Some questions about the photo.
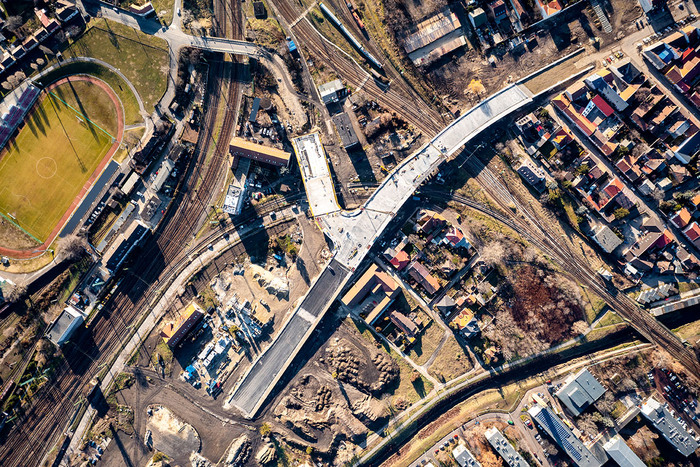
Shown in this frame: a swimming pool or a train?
train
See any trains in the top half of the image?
Yes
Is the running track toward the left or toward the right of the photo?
left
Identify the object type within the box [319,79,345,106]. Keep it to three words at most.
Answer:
building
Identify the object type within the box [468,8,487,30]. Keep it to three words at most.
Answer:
house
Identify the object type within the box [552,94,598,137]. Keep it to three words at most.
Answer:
house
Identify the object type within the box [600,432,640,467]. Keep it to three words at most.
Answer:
building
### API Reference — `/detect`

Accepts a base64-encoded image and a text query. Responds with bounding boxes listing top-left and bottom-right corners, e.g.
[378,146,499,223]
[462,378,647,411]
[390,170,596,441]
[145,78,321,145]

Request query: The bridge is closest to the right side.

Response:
[632,311,696,375]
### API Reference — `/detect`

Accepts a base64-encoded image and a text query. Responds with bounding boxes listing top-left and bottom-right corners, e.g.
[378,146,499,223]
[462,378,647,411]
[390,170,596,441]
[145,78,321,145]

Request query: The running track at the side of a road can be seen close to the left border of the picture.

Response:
[0,75,124,258]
